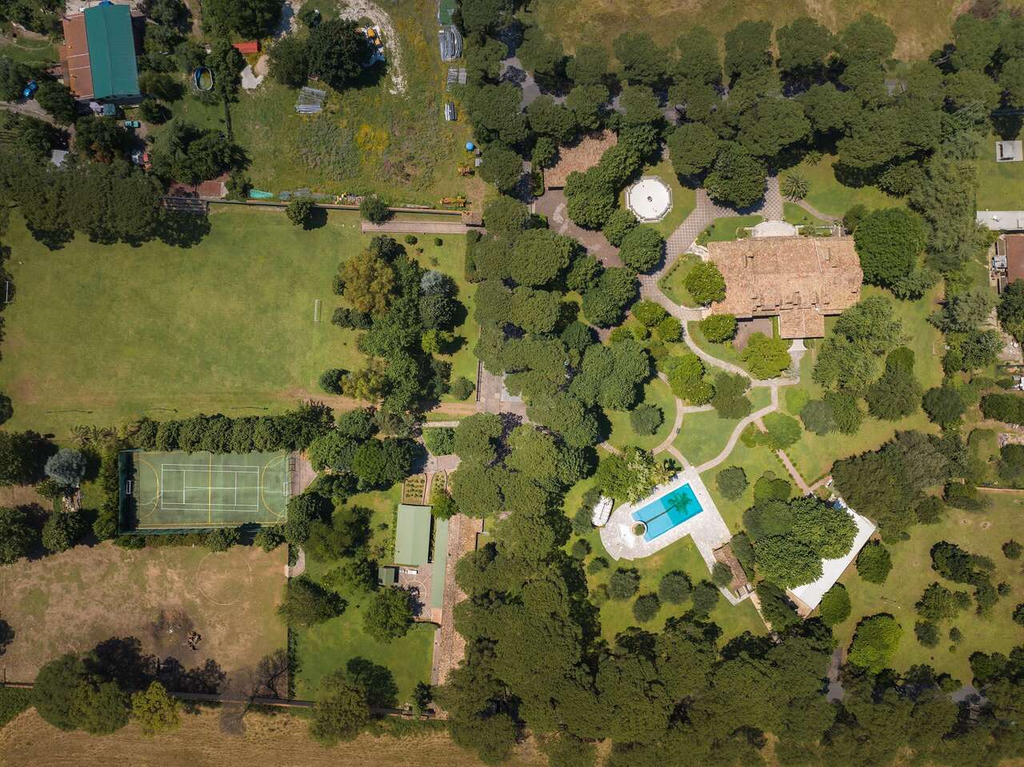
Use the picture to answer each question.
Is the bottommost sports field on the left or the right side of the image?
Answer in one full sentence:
It is on the left.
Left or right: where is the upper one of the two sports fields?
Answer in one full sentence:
The upper one of the two sports fields sits on the left side.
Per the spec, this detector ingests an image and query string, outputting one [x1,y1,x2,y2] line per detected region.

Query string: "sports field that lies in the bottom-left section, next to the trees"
[0,551,282,677]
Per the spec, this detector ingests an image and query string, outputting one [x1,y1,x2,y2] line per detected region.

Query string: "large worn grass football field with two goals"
[0,234,343,424]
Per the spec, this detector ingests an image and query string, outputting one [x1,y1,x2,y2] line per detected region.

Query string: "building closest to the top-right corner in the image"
[989,141,1023,165]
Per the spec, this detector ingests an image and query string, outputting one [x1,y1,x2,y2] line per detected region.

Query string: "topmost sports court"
[126,449,288,531]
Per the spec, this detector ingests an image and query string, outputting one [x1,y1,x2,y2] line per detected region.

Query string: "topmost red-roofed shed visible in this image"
[233,42,262,58]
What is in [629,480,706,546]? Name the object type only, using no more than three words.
swimming pool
